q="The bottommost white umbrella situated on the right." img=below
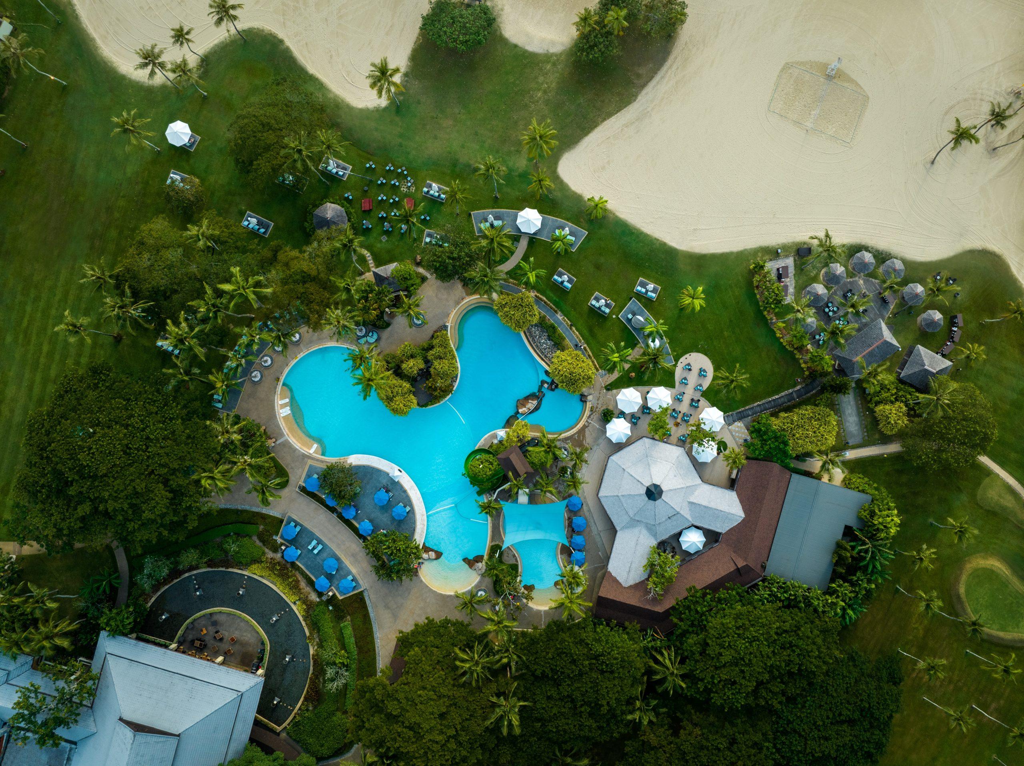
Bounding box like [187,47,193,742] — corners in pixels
[678,525,705,553]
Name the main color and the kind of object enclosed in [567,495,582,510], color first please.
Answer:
blue umbrella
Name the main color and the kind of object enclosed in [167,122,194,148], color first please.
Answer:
white umbrella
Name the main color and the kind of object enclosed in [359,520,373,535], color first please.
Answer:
blue umbrella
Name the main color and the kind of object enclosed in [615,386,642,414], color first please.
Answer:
white umbrella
